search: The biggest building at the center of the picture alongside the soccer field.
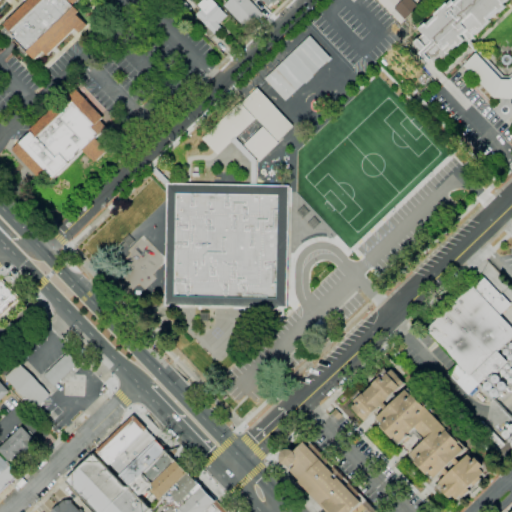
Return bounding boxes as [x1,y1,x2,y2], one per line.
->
[166,184,292,306]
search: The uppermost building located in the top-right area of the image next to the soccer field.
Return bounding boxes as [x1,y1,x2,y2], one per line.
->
[418,0,510,62]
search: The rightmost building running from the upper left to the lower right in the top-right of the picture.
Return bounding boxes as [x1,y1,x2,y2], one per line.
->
[463,51,512,100]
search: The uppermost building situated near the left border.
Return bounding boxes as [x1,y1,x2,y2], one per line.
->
[3,0,86,57]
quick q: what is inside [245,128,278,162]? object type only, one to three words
building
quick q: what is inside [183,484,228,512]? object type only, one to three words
building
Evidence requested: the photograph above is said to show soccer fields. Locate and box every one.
[298,77,452,247]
